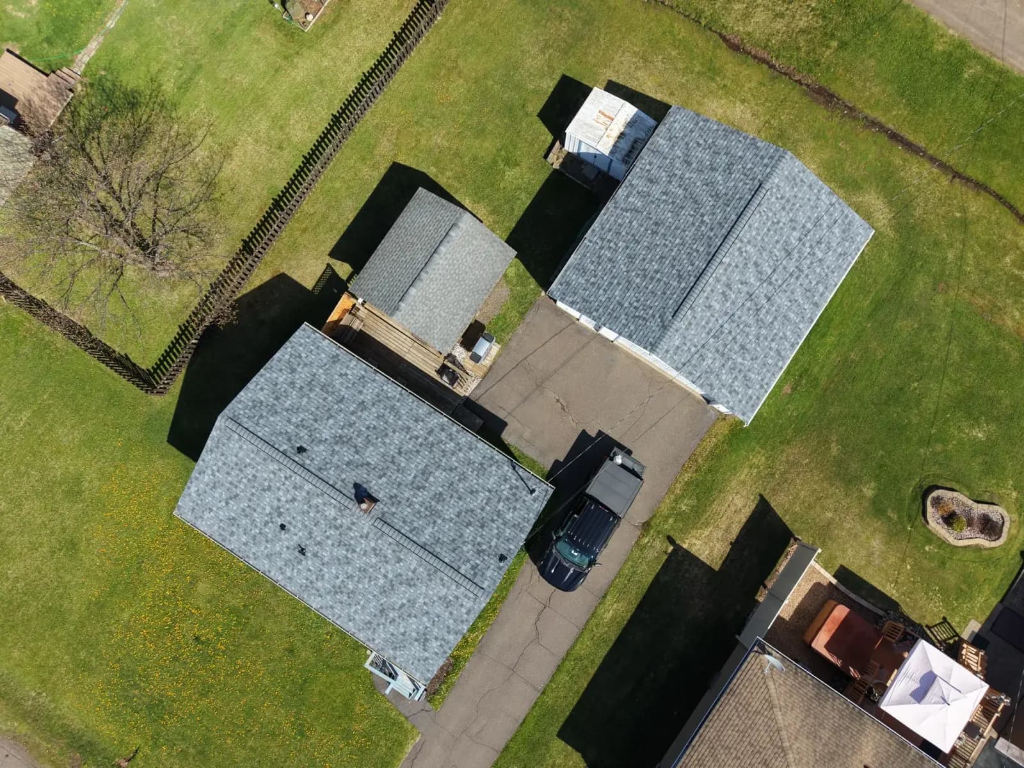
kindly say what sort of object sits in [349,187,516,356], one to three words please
shed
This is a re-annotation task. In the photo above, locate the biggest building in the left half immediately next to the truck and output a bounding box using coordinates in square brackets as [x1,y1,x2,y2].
[176,321,556,684]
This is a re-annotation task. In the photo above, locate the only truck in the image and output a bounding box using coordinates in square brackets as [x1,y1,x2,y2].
[543,447,650,595]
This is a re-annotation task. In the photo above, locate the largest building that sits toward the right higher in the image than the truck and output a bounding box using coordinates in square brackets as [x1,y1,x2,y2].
[545,102,873,426]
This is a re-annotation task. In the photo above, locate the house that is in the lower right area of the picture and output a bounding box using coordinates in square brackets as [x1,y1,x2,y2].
[636,624,957,768]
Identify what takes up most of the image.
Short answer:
grass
